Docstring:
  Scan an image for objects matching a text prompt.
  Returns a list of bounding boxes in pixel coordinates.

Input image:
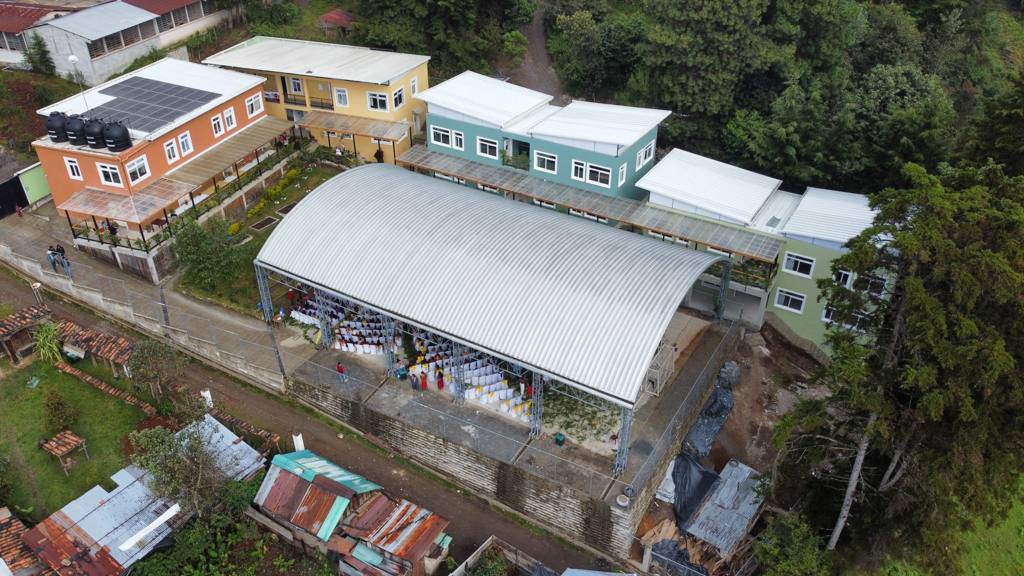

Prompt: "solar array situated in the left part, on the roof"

[79,77,221,132]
